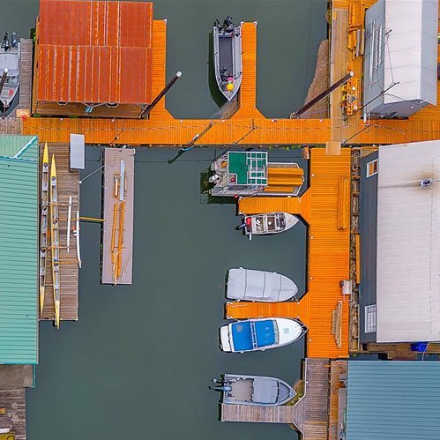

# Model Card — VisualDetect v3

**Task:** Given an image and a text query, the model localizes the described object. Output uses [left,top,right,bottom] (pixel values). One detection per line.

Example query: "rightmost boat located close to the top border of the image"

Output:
[212,8,244,118]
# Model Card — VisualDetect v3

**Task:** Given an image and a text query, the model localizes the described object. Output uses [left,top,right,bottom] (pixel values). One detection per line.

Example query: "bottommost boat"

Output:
[206,373,296,407]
